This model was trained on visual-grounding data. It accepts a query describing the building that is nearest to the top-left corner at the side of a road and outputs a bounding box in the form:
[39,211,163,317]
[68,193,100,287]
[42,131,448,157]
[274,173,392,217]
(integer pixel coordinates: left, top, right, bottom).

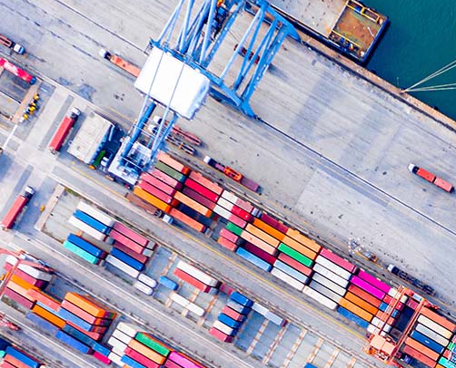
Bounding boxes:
[67,112,124,168]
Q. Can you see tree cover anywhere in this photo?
No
